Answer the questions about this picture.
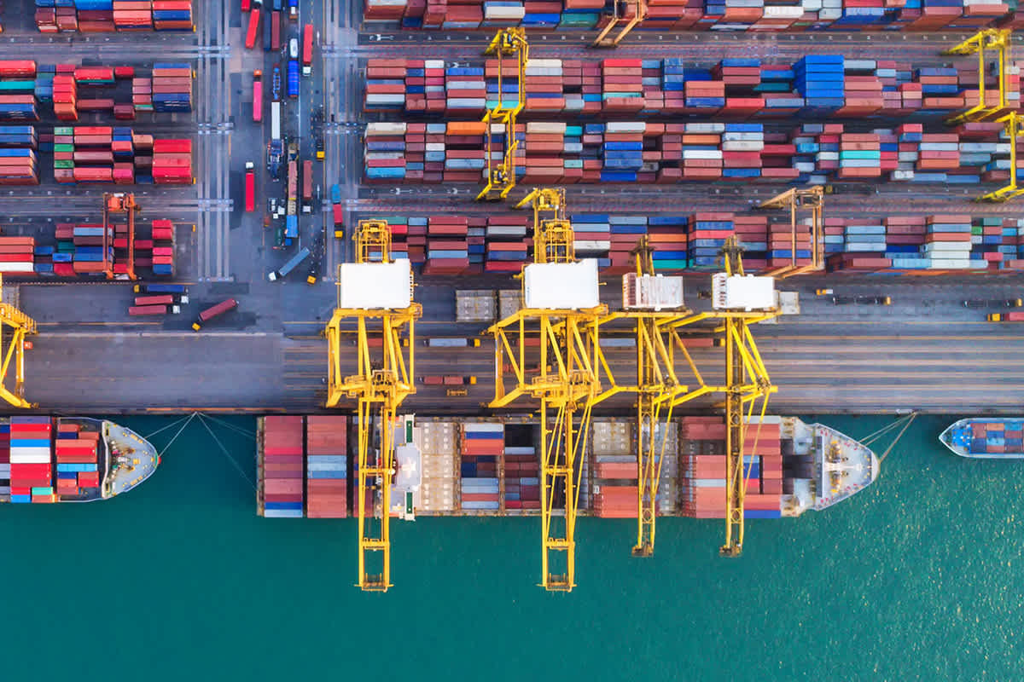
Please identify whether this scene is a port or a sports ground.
port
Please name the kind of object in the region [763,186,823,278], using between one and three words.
crane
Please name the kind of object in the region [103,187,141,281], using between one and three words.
crane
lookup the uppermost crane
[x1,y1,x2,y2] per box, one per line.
[592,0,645,44]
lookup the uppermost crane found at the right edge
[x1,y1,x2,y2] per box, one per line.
[941,26,1011,125]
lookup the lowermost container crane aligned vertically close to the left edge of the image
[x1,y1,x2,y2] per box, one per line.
[0,256,41,409]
